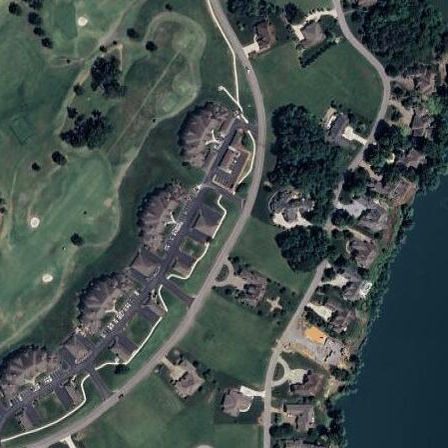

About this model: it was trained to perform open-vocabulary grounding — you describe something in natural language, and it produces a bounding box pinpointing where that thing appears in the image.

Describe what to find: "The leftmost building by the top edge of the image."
[255,21,276,49]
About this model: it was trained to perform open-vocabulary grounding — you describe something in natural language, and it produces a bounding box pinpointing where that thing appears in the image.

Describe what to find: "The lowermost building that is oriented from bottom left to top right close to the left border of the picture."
[0,353,63,409]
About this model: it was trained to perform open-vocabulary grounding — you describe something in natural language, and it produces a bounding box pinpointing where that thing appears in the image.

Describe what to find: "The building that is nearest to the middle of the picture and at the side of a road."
[191,209,220,236]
